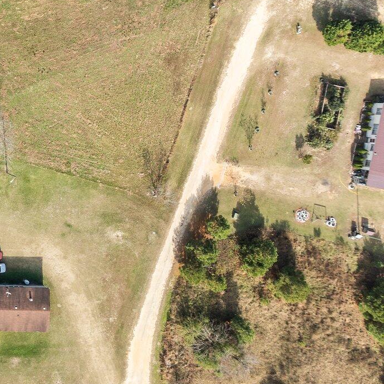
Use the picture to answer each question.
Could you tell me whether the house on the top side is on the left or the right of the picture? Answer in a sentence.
It is on the right.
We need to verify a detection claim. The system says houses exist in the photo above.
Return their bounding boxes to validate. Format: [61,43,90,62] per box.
[350,111,384,193]
[0,283,53,333]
